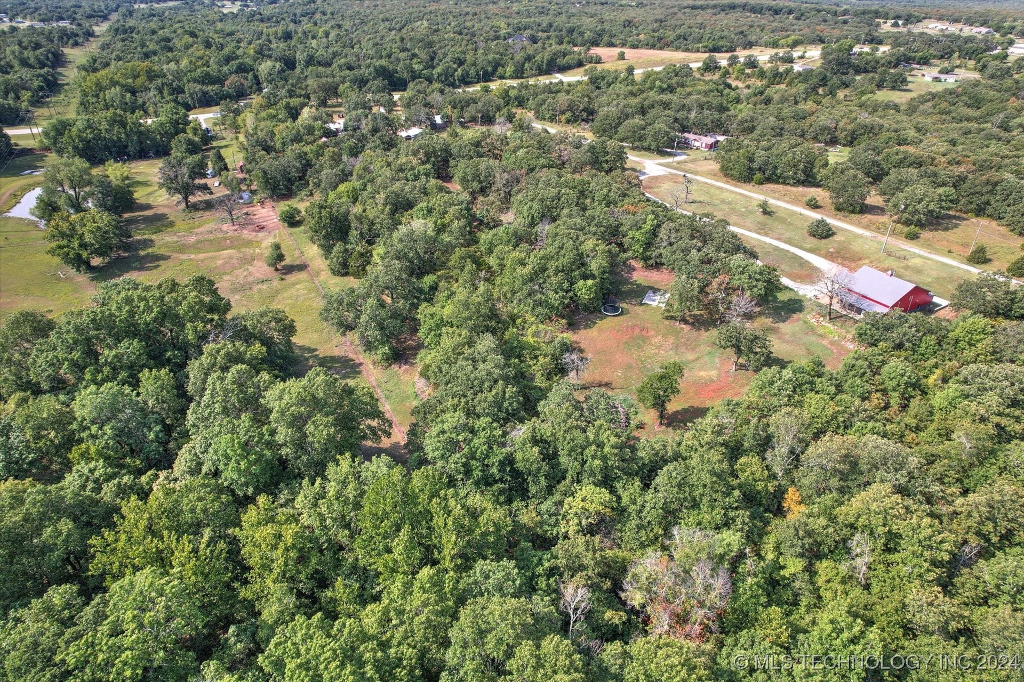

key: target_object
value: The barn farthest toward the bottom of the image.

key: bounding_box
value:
[823,267,931,318]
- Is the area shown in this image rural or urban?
rural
